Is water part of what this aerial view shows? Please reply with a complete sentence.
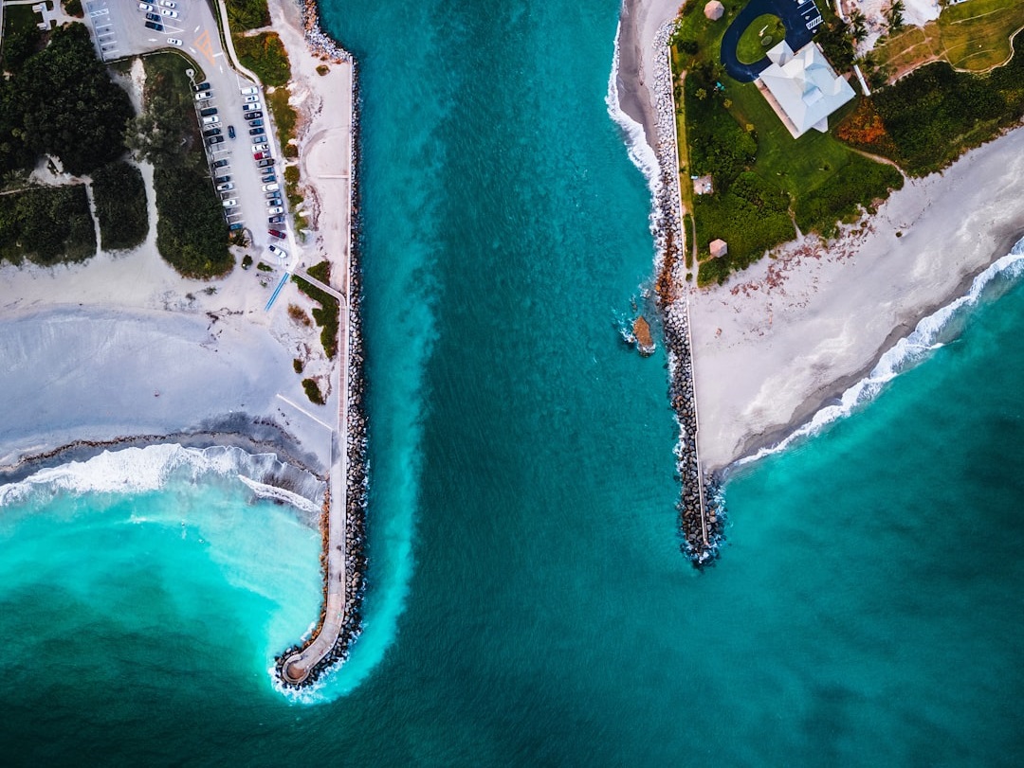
Yes, water shows up in the scene.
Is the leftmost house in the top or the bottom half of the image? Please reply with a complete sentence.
The leftmost house is in the top half of the image.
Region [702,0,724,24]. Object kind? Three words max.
gazebo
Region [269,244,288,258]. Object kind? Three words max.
vehicle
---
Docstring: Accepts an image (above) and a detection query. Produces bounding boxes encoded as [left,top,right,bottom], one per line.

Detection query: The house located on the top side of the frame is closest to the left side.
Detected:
[752,40,856,139]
